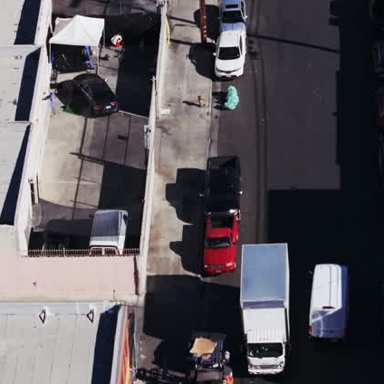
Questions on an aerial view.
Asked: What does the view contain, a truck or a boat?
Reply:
truck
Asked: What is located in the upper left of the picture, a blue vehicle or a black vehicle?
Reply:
black vehicle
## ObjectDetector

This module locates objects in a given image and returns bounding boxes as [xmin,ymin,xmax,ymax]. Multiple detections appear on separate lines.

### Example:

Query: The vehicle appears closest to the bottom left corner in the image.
[49,222,88,253]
